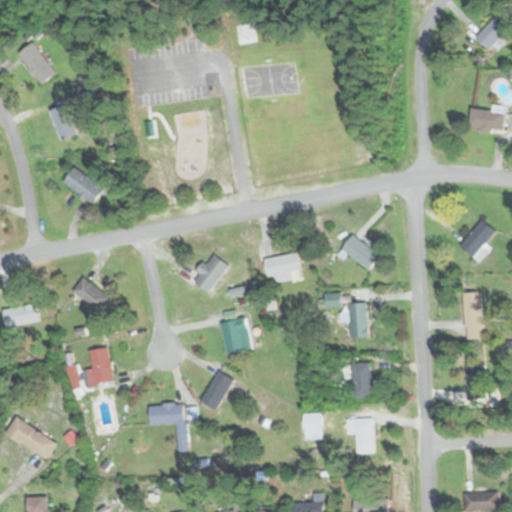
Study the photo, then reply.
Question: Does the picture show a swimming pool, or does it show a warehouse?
swimming pool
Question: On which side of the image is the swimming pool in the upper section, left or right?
right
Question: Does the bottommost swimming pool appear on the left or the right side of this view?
left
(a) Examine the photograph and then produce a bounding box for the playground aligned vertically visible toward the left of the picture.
[174,111,208,179]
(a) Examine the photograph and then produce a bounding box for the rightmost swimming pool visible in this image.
[492,78,512,106]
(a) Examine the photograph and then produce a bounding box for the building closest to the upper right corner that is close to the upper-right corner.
[476,18,503,49]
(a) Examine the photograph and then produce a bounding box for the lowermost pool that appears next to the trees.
[92,395,119,436]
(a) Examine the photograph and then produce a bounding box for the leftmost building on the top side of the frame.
[18,43,57,84]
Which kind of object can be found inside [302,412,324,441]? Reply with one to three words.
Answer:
building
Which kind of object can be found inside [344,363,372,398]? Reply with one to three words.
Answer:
house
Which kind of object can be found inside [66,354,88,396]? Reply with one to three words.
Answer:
building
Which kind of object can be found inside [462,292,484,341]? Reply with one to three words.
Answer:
house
